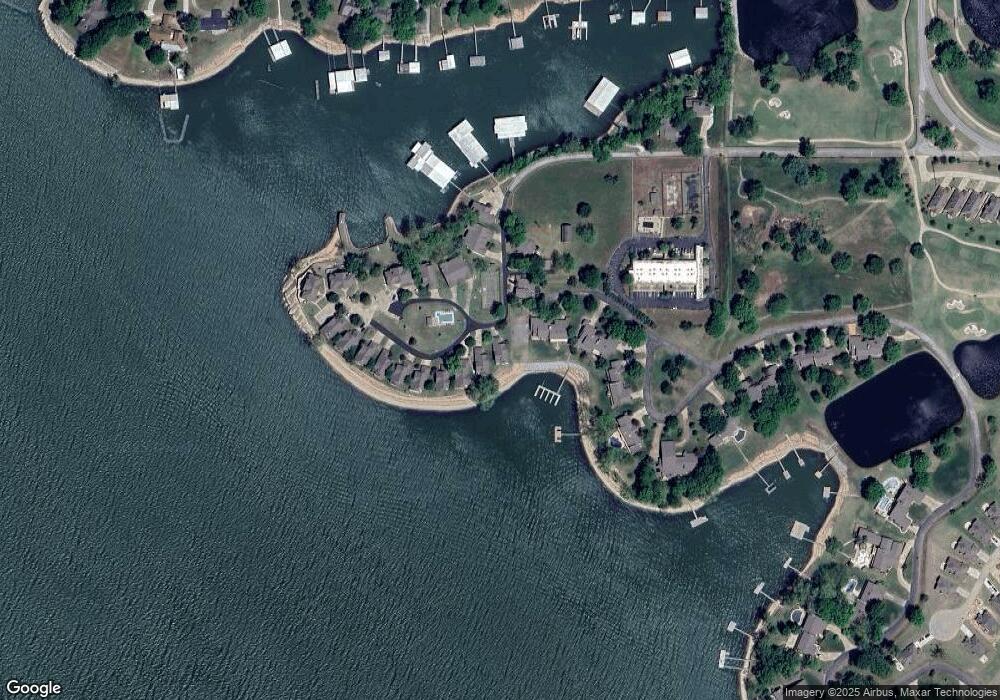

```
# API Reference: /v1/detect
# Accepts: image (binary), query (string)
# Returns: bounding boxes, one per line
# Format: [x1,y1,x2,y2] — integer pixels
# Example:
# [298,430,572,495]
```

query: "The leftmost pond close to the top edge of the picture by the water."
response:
[736,0,858,77]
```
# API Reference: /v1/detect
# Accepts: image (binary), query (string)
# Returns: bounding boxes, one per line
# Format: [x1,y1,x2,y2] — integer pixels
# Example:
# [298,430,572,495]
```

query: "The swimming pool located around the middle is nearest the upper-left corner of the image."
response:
[430,310,455,326]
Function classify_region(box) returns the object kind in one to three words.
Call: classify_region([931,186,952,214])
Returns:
house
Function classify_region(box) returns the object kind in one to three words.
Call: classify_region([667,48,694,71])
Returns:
pier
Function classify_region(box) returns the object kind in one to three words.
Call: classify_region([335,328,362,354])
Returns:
house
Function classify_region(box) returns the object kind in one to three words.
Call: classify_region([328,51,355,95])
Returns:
pier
